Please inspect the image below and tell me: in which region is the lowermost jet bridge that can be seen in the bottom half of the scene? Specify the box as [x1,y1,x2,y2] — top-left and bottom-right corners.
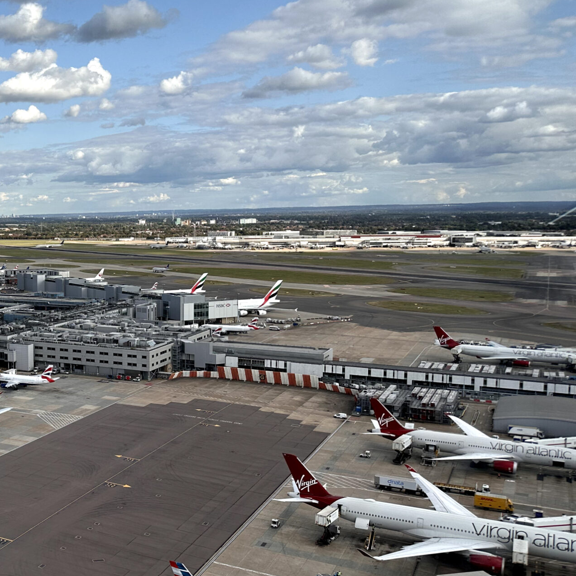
[505,511,576,533]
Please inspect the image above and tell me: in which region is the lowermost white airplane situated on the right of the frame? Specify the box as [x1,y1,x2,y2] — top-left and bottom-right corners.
[286,456,576,571]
